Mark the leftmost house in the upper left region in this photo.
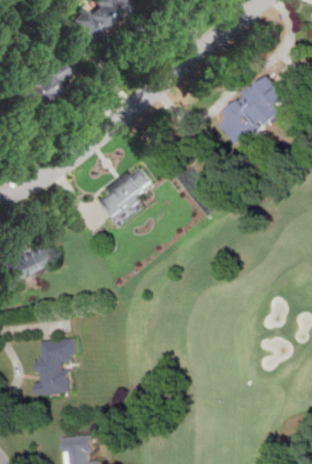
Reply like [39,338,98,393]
[41,64,74,100]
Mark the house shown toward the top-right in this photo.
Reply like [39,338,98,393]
[217,81,279,139]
